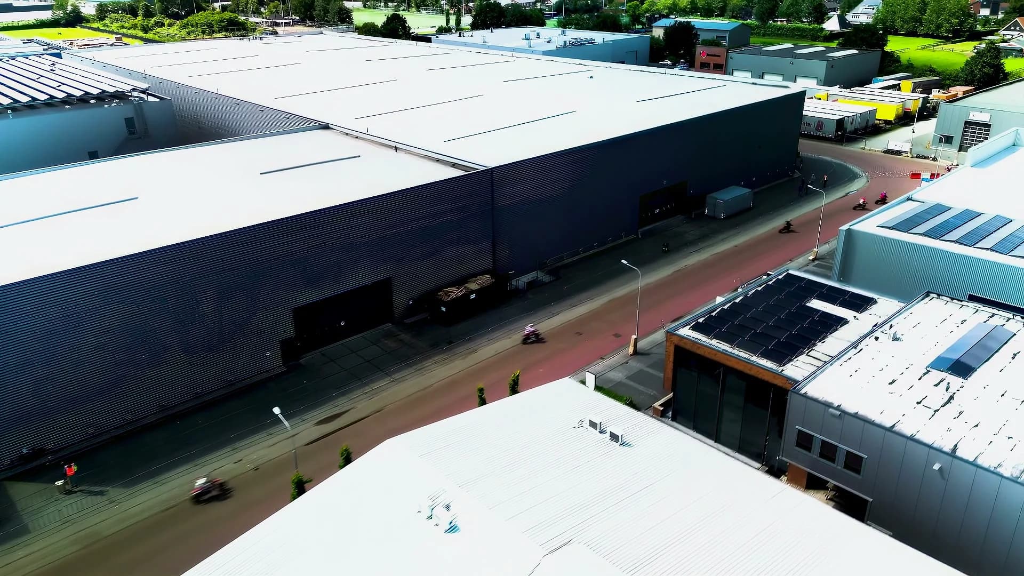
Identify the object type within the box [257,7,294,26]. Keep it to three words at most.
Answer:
building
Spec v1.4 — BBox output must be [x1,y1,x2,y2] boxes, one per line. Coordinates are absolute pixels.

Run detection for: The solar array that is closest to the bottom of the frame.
[692,273,876,367]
